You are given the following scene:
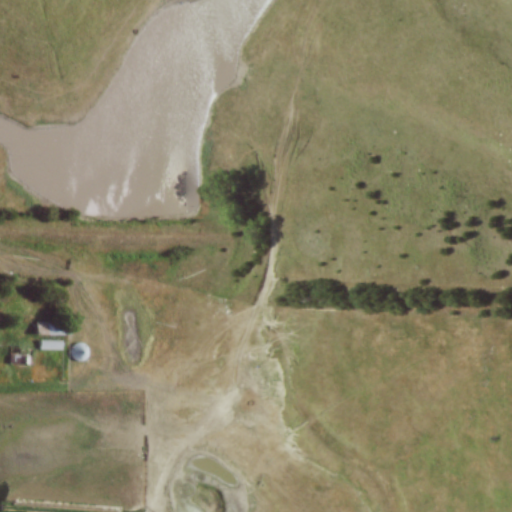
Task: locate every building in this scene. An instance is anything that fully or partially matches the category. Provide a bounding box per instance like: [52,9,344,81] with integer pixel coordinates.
[10,350,32,366]
[38,322,66,335]
[40,340,64,351]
